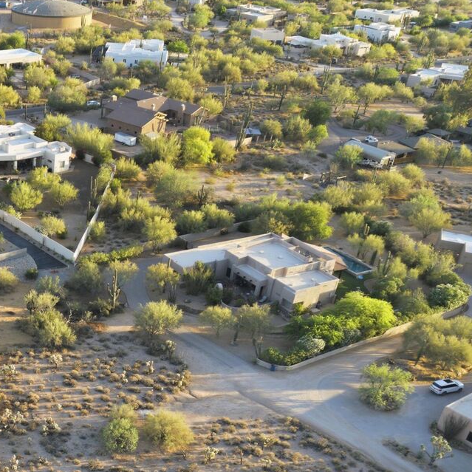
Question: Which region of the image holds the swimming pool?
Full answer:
The swimming pool appears toward the right of the photo.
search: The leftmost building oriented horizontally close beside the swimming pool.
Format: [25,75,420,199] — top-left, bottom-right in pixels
[162,232,346,315]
